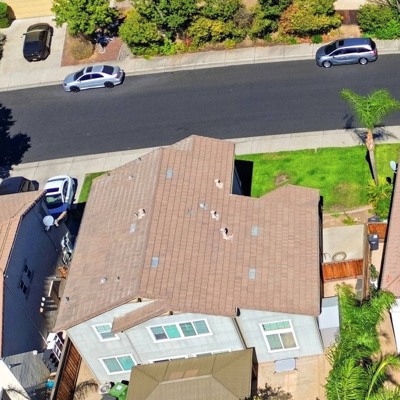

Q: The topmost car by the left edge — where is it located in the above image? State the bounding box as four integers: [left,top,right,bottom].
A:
[19,21,53,57]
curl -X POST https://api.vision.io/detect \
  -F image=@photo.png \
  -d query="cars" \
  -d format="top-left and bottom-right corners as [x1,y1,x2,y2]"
[45,174,79,225]
[19,21,53,57]
[315,38,378,71]
[0,165,42,192]
[61,64,127,94]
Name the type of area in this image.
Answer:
residential area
